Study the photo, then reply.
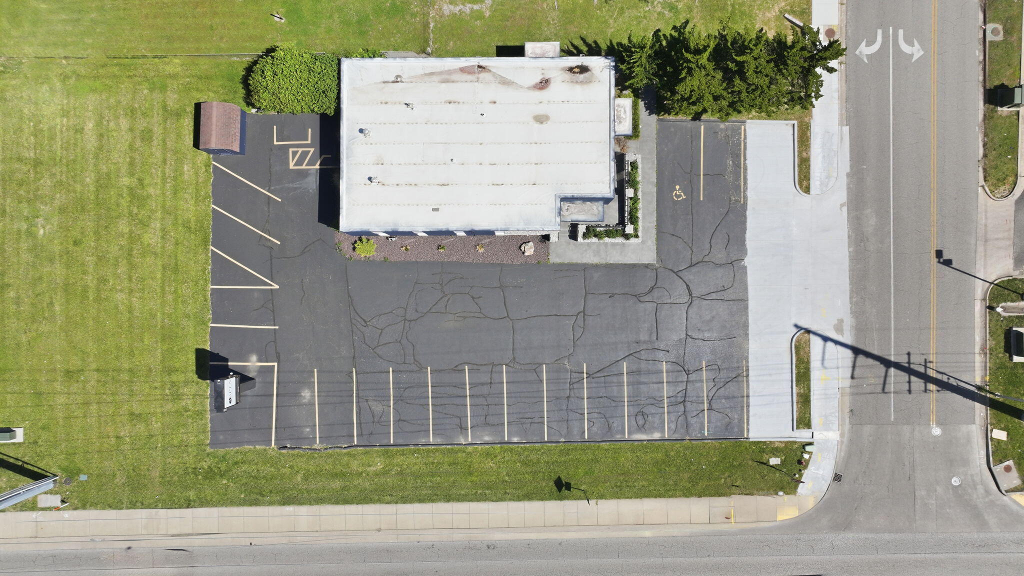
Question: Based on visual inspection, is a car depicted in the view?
No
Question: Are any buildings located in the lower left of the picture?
No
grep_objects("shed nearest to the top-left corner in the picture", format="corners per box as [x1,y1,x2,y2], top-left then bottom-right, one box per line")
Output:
[201,102,245,160]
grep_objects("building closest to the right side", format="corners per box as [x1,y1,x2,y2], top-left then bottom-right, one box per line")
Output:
[341,43,632,236]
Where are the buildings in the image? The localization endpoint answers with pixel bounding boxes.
[341,43,632,236]
[201,102,245,160]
